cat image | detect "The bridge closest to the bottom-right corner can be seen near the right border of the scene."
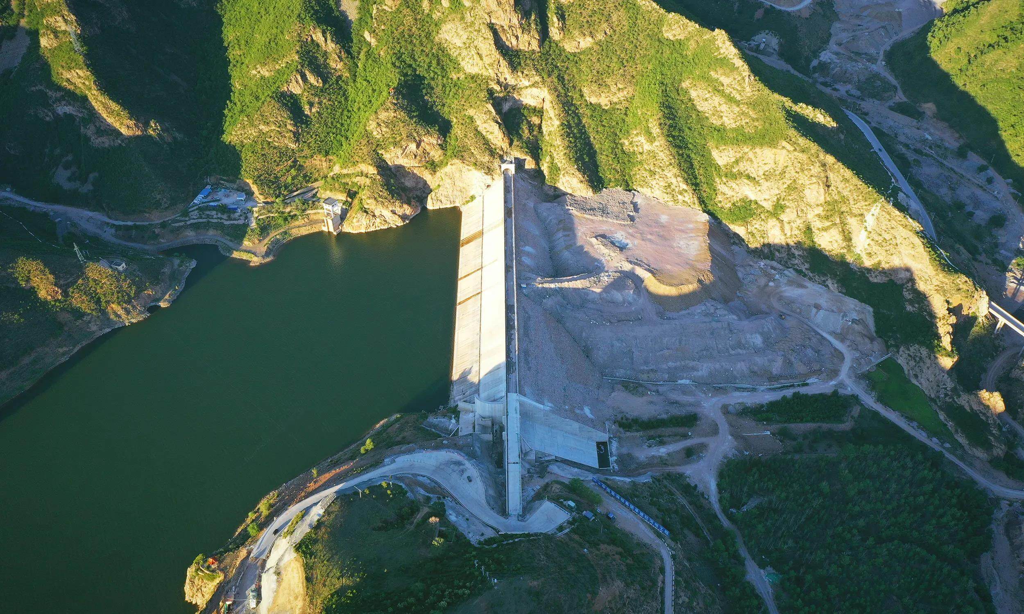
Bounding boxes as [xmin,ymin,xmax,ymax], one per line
[982,302,1024,363]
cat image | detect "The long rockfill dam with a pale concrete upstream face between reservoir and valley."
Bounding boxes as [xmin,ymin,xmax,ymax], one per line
[450,168,621,449]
